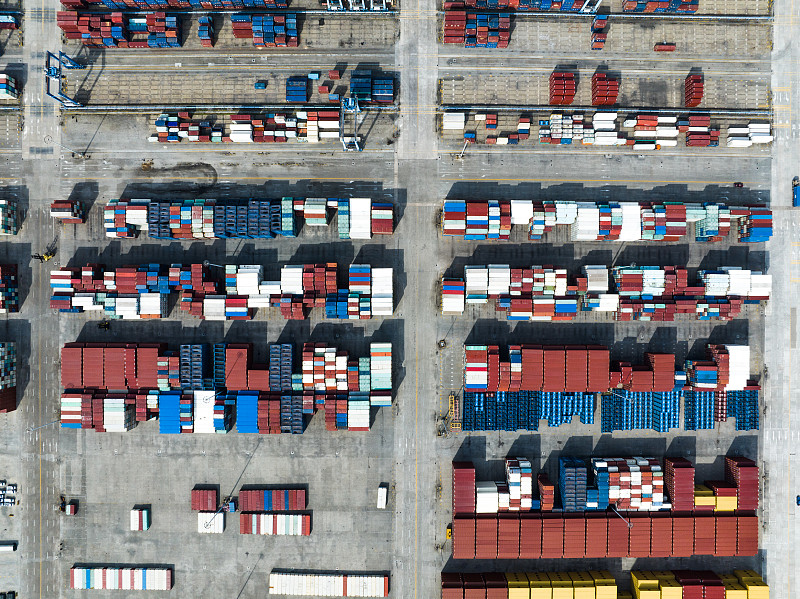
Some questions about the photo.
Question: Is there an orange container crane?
No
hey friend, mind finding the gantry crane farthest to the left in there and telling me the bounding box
[45,48,86,109]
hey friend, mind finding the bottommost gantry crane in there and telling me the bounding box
[338,94,363,152]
